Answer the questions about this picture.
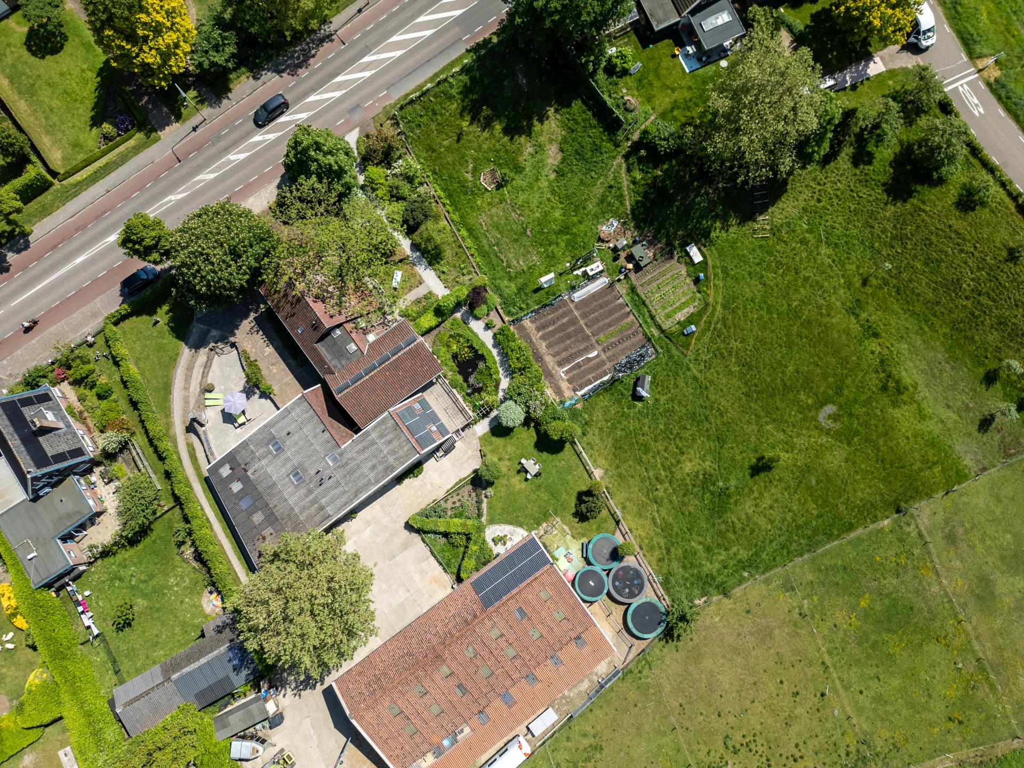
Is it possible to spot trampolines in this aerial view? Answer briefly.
Yes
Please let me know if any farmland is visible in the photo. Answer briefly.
Yes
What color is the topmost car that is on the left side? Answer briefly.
black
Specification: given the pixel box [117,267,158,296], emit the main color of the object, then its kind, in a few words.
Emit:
black car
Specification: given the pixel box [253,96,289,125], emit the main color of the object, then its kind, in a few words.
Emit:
black car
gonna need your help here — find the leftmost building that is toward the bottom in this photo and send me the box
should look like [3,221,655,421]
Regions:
[0,387,108,589]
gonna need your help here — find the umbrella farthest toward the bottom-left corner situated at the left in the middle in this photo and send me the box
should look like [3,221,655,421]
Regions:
[225,392,249,416]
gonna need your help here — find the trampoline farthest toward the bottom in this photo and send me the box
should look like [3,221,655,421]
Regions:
[625,596,667,639]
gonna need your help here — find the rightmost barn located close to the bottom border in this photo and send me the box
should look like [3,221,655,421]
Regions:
[331,532,617,768]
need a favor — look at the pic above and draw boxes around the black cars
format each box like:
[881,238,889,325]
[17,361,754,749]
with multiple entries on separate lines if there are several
[117,267,158,296]
[253,96,289,125]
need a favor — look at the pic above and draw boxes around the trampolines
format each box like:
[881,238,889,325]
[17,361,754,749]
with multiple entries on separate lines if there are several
[625,596,667,639]
[587,533,622,569]
[574,565,609,601]
[608,561,649,604]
